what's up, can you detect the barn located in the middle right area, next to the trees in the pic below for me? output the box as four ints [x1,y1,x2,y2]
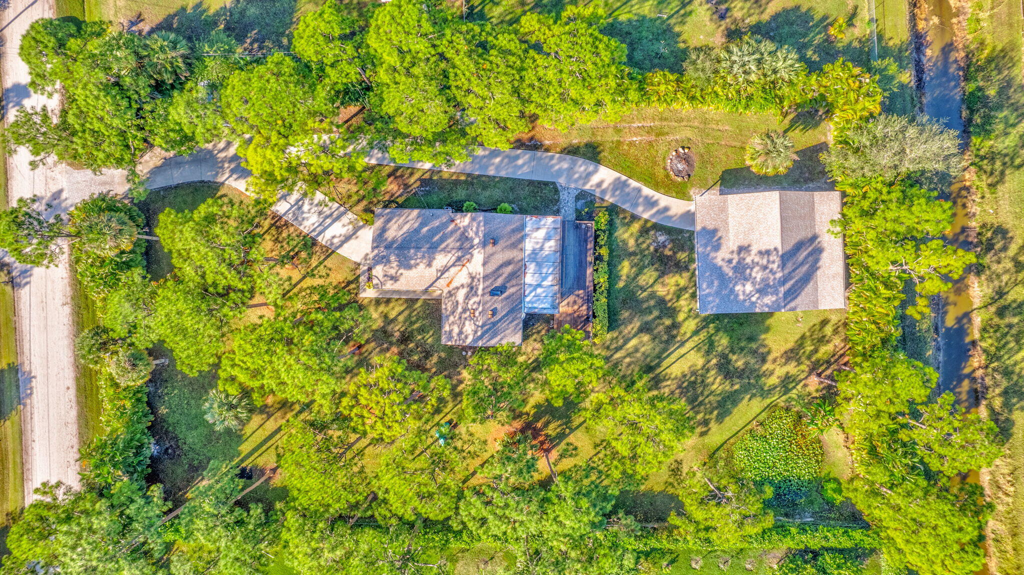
[691,190,847,314]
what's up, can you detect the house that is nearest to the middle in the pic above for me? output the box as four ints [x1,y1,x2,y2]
[362,208,563,346]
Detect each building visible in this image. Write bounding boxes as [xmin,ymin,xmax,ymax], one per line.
[362,208,563,346]
[691,190,847,314]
